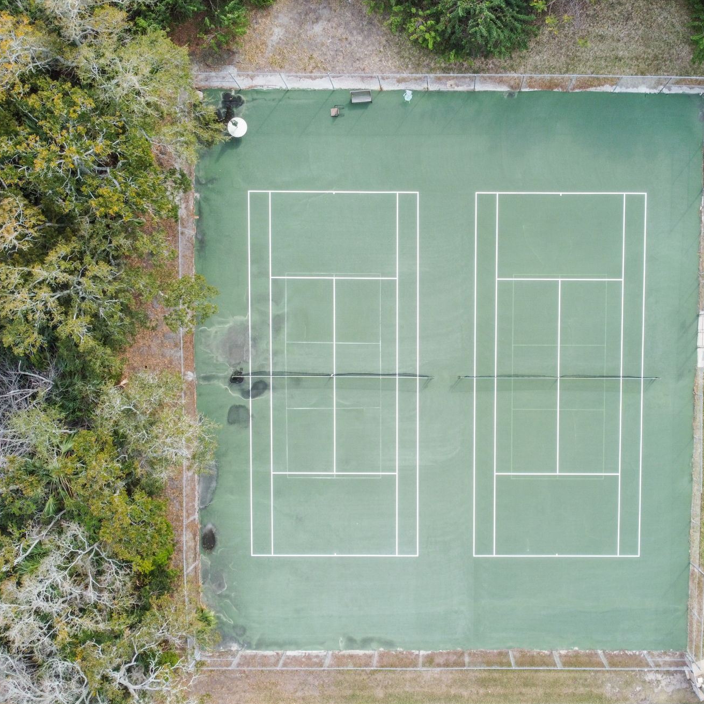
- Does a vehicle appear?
No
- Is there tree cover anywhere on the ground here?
Yes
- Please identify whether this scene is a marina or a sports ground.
sports ground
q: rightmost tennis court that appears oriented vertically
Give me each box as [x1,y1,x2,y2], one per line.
[472,90,704,652]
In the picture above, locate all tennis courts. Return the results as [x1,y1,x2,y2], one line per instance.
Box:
[194,89,475,652]
[472,90,704,652]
